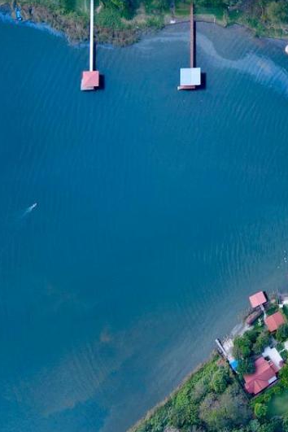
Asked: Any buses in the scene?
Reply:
No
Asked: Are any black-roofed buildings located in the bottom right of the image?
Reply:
No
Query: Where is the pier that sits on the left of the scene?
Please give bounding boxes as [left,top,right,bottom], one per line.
[81,0,101,90]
